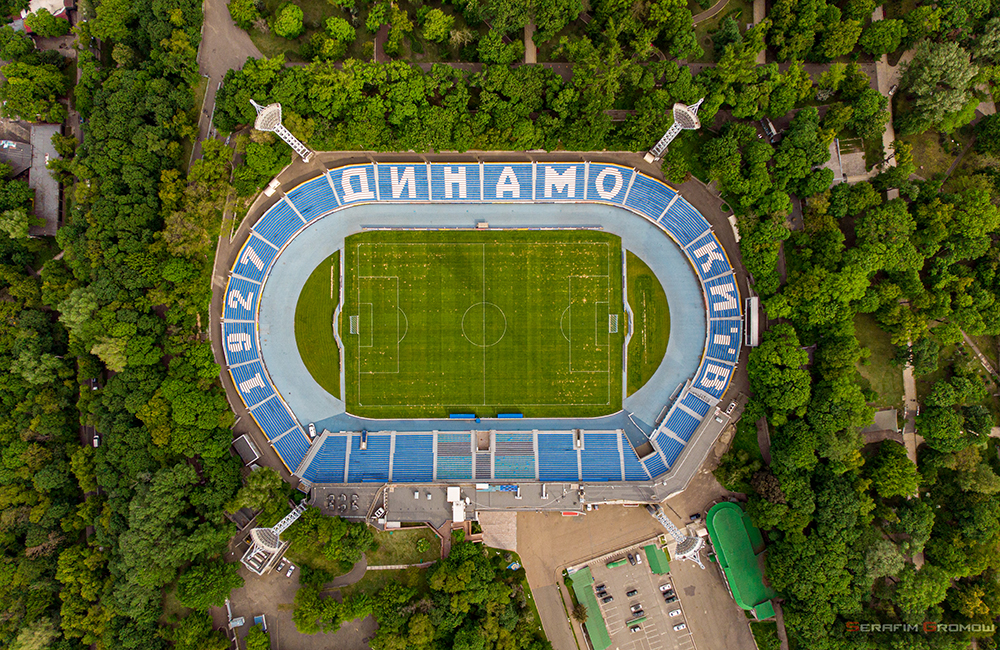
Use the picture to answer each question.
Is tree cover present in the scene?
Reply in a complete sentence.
Yes, tree cover shows up in the scene.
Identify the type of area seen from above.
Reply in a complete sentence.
This image shows a sports ground.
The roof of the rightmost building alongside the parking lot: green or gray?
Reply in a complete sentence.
The roof of the rightmost building alongside the parking lot is green.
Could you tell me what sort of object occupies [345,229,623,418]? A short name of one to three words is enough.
sports field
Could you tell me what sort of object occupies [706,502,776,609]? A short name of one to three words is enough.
building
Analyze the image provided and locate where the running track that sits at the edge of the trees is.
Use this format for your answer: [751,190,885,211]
[260,204,705,458]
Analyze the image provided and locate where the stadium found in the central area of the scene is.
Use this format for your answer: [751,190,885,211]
[218,158,745,565]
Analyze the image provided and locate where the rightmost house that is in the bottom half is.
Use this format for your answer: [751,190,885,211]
[861,409,898,434]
